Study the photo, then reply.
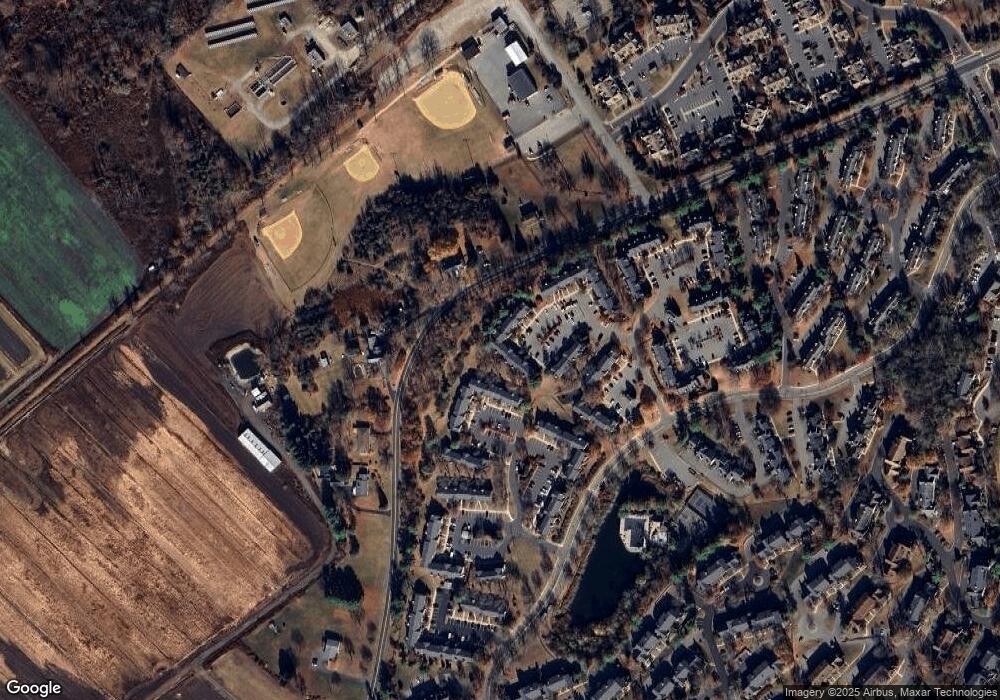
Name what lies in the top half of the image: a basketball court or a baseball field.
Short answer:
baseball field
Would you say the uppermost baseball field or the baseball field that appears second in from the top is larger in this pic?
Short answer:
the uppermost baseball field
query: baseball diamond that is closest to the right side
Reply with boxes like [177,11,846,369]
[415,71,476,129]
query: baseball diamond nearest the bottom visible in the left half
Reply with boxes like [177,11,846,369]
[261,185,333,290]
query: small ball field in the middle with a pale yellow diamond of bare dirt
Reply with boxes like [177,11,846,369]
[344,144,379,181]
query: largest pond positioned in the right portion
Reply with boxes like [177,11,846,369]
[568,470,667,628]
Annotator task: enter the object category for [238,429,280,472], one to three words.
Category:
building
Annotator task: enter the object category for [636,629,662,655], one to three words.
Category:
house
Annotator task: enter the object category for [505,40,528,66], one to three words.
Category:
barn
